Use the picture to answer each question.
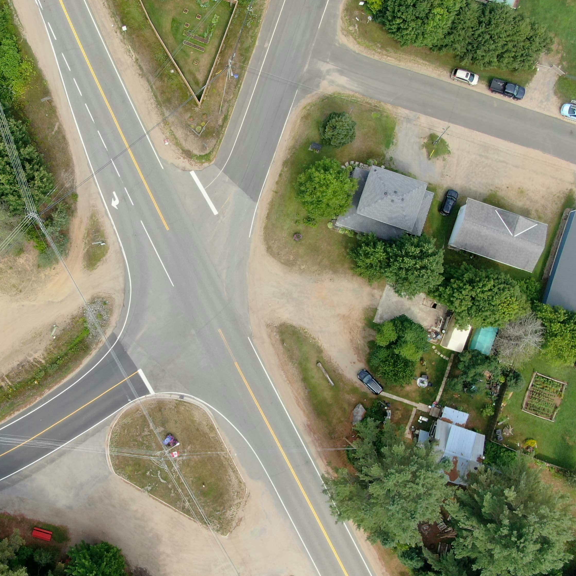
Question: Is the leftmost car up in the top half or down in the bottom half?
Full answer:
Seen from above, the leftmost car lies in the bottom half of the view.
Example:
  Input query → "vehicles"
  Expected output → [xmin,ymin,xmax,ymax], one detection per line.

[357,366,386,398]
[450,65,481,85]
[438,187,459,218]
[560,101,576,119]
[489,77,529,99]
